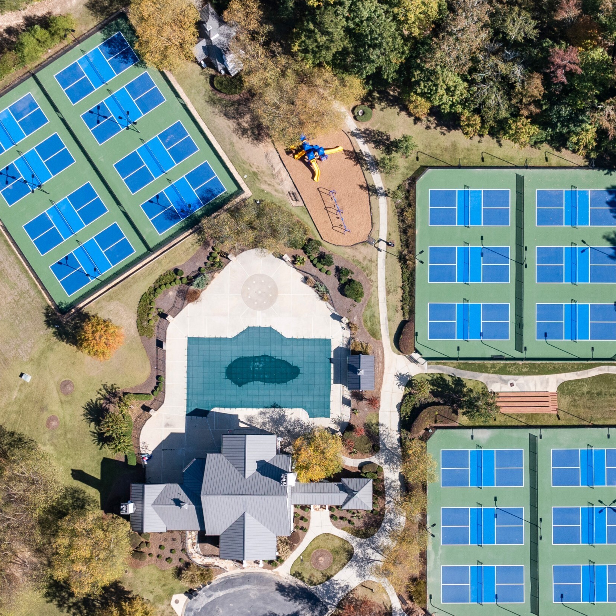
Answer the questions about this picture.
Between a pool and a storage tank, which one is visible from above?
pool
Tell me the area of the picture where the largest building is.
bottom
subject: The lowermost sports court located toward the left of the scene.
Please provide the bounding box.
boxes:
[48,222,136,297]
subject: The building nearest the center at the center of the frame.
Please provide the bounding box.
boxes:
[348,355,375,390]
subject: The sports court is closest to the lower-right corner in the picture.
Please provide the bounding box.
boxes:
[553,563,616,605]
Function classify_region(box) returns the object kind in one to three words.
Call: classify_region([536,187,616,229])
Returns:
sports court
